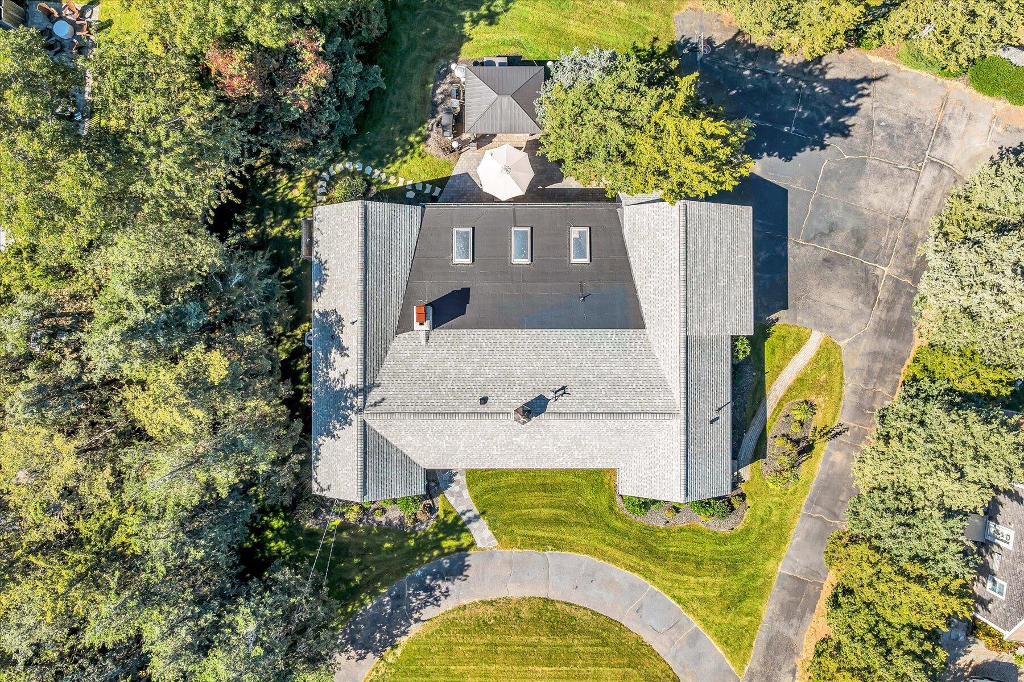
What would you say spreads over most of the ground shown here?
trees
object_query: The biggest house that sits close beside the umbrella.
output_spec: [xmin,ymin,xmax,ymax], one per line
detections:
[310,191,754,503]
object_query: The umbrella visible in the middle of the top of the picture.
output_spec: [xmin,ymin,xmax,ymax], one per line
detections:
[476,144,534,201]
